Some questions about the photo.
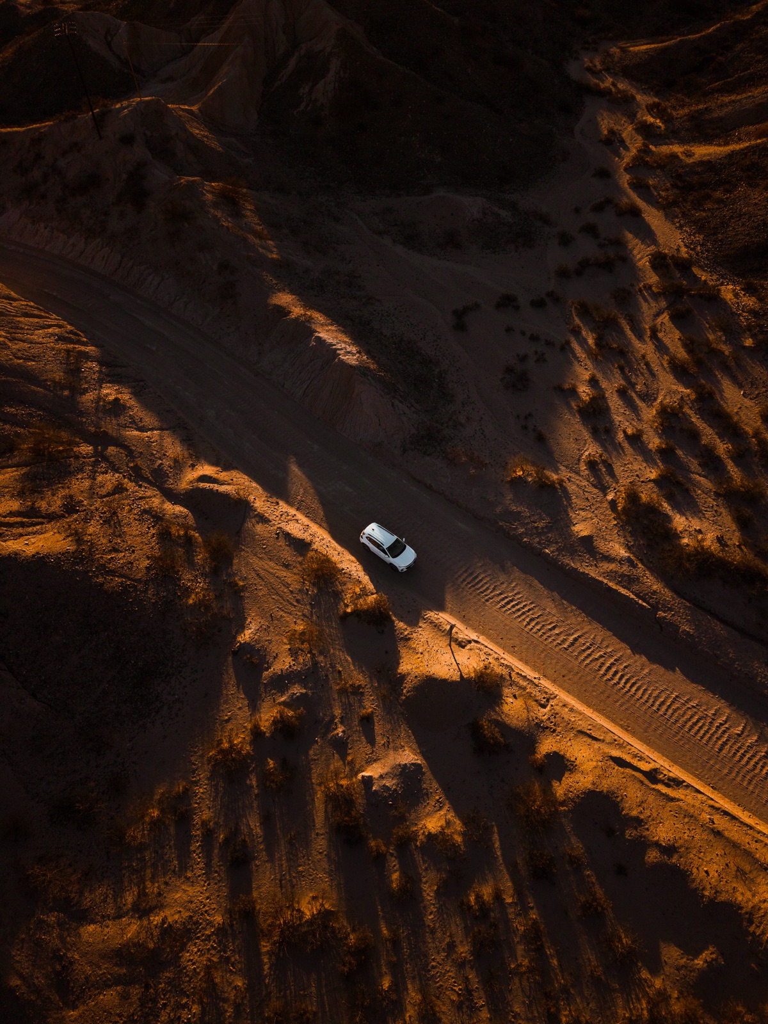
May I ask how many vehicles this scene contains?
1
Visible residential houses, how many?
0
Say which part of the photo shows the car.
center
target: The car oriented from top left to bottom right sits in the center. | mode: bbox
[358,522,418,574]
